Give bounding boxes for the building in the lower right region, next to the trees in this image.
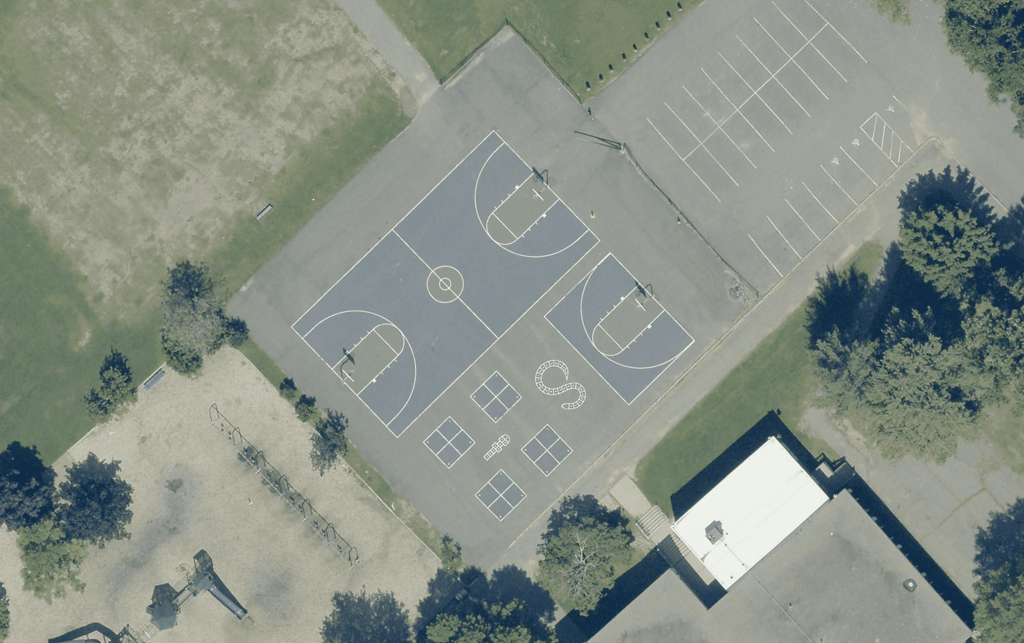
[587,427,975,643]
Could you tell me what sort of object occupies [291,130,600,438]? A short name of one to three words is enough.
basketball court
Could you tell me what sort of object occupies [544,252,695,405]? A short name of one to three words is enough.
basketball court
